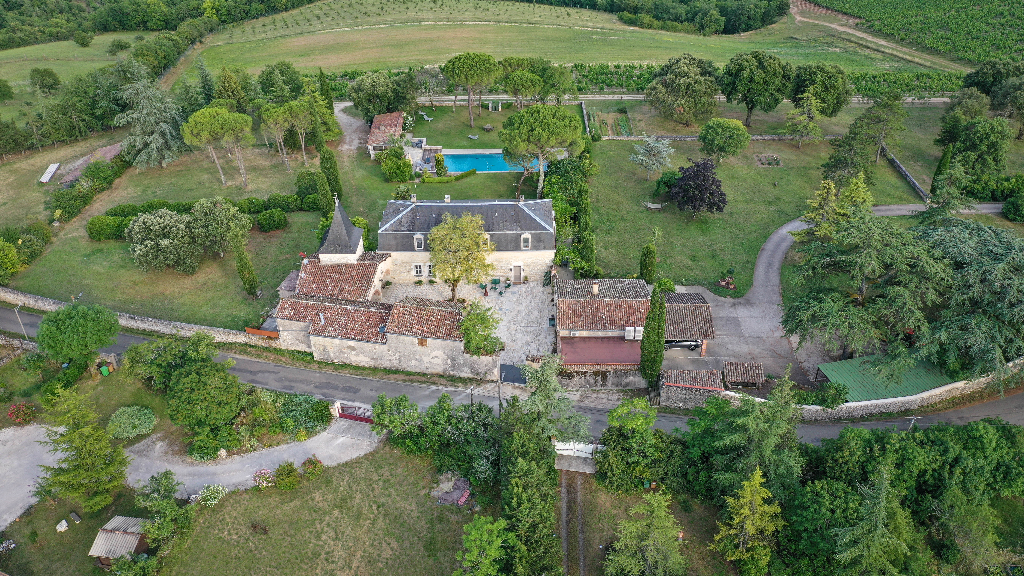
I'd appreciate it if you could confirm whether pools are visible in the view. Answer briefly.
Yes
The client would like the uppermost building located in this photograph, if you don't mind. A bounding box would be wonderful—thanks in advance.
[367,111,413,162]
